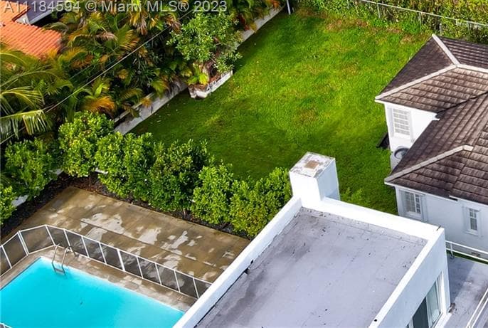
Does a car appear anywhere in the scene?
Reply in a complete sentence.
No, the scene contains no car.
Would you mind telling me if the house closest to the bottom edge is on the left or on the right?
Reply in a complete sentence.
You can find the house closest to the bottom edge on the right side of the picture.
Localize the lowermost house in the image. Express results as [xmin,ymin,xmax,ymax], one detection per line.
[173,147,488,328]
